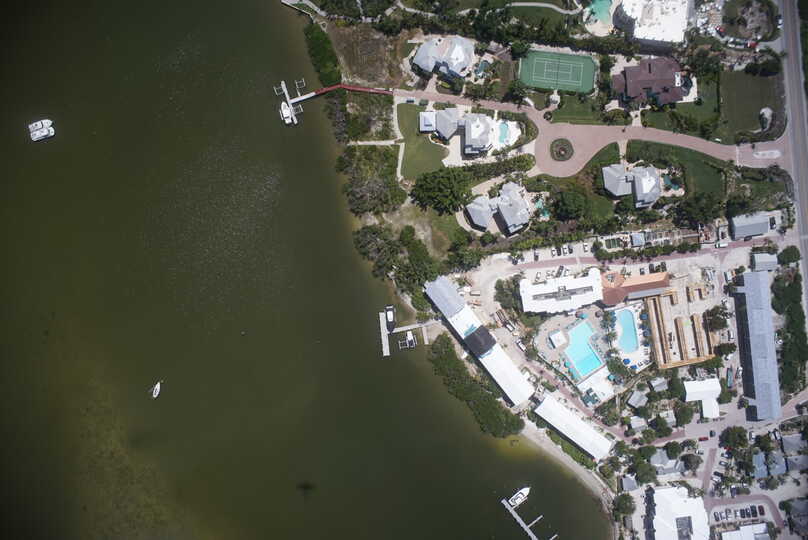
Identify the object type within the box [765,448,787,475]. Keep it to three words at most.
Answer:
house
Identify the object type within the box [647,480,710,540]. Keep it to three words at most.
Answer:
building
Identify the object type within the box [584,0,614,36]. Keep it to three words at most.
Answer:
swimming pool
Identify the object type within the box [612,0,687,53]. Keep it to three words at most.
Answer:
building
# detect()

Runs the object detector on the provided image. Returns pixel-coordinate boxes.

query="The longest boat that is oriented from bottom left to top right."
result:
[506,487,526,506]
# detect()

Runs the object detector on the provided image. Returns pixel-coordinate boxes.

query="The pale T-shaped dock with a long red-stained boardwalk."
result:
[281,81,394,124]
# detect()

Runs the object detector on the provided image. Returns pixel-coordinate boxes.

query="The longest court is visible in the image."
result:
[520,47,597,92]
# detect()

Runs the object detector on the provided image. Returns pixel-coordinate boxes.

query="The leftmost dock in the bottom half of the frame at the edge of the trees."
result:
[379,313,438,356]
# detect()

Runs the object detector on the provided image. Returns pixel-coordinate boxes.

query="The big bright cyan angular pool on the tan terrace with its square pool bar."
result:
[534,305,611,384]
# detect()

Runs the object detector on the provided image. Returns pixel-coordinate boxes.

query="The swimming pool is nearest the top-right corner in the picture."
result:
[676,69,698,103]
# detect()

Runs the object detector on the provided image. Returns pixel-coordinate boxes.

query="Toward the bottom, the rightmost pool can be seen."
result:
[604,301,652,372]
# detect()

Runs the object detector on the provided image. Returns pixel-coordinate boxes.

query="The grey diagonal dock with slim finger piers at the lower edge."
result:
[500,497,557,540]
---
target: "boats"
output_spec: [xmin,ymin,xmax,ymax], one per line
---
[408,332,414,348]
[386,305,395,332]
[506,487,526,506]
[282,103,293,125]
[152,382,161,398]
[28,129,55,141]
[27,119,54,130]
